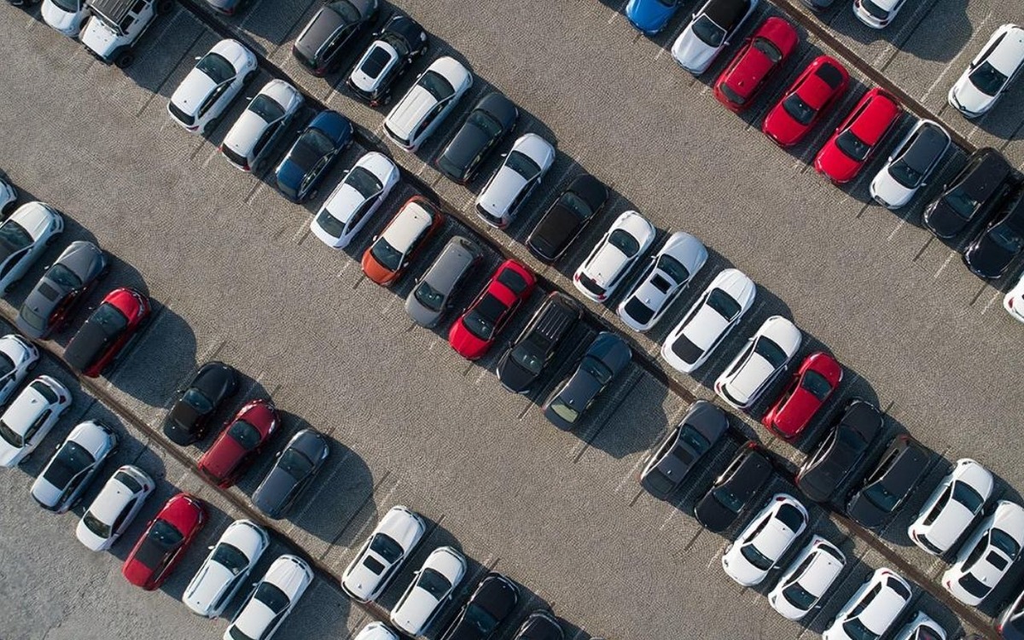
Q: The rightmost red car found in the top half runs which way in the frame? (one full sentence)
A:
In this picture, the rightmost red car found in the top half is oriented on a diagonal.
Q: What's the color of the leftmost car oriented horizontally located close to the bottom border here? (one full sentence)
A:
From above, the leftmost car oriented horizontally located close to the bottom border appears white.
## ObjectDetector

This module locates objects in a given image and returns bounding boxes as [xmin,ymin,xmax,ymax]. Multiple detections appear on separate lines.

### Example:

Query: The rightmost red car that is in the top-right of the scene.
[814,86,905,184]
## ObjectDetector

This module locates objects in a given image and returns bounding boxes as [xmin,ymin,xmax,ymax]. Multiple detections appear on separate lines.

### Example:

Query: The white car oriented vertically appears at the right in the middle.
[1001,266,1024,321]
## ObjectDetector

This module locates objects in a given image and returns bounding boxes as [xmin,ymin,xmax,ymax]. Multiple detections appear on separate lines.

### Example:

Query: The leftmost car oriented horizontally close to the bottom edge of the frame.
[349,620,396,640]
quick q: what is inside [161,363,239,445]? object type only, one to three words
car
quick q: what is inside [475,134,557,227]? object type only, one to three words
car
